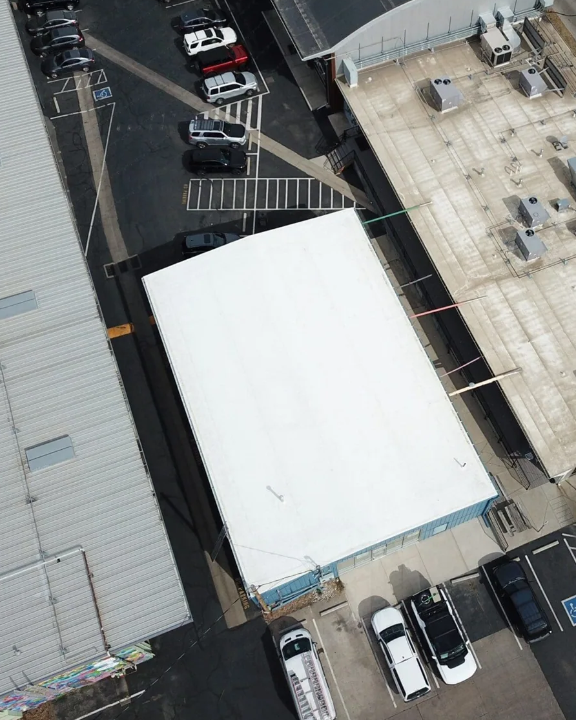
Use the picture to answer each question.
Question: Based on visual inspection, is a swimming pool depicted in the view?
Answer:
No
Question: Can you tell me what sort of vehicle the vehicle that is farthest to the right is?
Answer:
car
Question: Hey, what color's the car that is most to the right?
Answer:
black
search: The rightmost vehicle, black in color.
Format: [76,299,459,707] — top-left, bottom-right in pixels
[490,555,555,644]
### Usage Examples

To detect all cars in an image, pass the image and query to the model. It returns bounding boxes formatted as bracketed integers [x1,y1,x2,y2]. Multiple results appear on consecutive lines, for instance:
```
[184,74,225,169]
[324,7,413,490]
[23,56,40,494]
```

[201,74,259,109]
[189,144,247,177]
[20,0,81,17]
[183,27,238,60]
[182,225,244,259]
[31,24,87,59]
[196,43,250,79]
[27,10,81,37]
[189,119,247,148]
[171,6,228,37]
[42,50,96,81]
[490,555,555,644]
